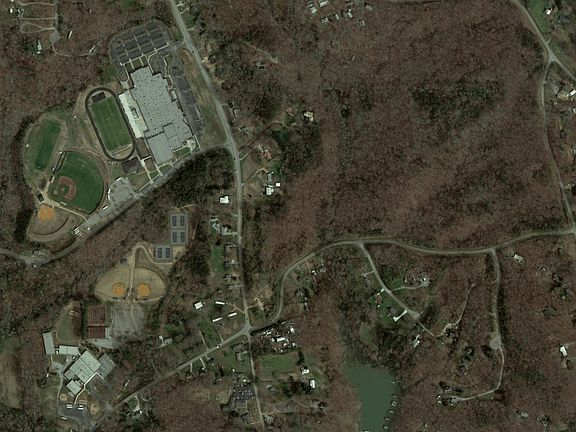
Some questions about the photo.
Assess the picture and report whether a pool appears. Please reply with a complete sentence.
No, the scene contains no pool.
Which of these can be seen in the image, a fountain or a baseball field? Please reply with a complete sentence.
Of the two, only a baseball field appears.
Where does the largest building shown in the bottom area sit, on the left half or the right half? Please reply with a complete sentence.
The largest building shown in the bottom area appears in the left half of the scene.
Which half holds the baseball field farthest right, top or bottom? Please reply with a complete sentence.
The bottom half of the photo is where the baseball field farthest right is.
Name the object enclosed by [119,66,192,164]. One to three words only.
building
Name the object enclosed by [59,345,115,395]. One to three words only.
building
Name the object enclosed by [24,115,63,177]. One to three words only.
sports field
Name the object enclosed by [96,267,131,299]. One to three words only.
baseball field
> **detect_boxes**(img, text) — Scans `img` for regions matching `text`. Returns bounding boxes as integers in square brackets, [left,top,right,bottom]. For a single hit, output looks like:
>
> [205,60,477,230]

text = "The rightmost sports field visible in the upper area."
[89,96,130,151]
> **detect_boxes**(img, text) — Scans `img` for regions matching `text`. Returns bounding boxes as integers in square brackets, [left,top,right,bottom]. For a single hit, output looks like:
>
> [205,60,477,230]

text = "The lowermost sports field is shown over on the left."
[56,302,81,341]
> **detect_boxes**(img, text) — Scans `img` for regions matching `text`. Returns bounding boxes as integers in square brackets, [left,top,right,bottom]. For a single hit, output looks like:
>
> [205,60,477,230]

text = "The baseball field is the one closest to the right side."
[133,267,165,300]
